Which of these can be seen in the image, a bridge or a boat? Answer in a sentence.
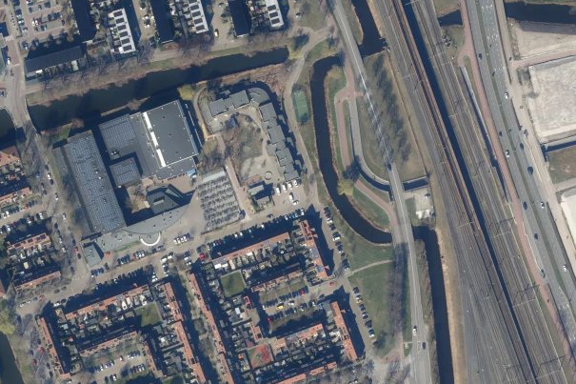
Visible in the photo is a bridge.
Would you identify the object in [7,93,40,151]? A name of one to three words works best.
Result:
bridge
